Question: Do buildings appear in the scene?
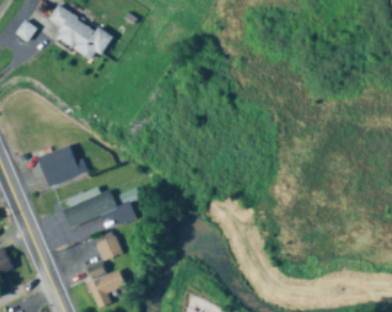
Yes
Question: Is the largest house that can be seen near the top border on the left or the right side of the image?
left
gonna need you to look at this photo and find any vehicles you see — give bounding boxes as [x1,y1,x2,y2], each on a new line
[88,258,100,264]
[24,281,39,292]
[29,158,38,169]
[36,41,48,50]
[72,273,88,282]
[103,220,116,228]
[8,306,14,312]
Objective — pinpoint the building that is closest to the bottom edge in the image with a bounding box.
[87,269,126,308]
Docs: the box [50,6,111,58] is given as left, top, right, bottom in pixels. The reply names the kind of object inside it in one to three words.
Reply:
house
